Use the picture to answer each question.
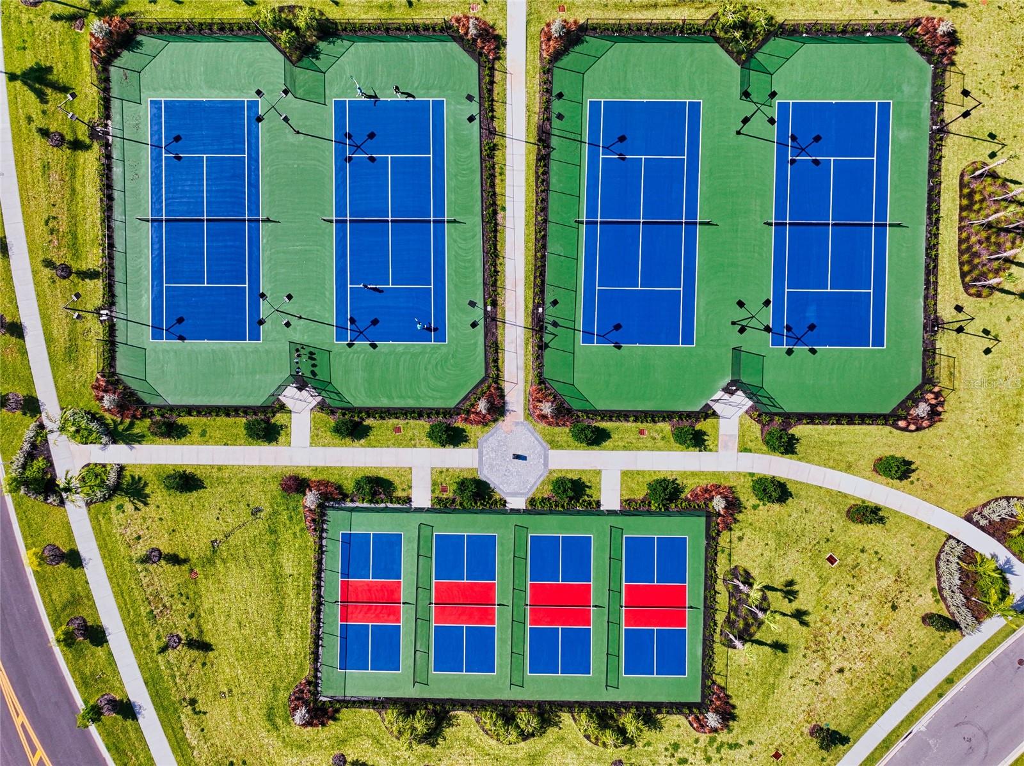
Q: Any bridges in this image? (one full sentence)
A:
No, no bridge can be seen from above.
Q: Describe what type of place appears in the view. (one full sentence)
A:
The picture captures a sports ground.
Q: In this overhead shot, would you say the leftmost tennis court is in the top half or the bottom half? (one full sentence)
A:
It is in the top half that the leftmost tennis court appears.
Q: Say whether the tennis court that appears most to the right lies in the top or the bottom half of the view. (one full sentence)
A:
It is in the top half that the tennis court that appears most to the right appears.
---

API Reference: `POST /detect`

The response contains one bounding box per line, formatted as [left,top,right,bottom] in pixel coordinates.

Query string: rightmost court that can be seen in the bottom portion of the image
[605,509,705,702]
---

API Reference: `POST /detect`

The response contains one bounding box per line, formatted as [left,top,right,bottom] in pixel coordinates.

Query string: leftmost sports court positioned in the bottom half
[320,506,421,698]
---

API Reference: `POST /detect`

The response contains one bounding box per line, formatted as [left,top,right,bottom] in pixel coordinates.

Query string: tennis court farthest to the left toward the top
[111,34,300,406]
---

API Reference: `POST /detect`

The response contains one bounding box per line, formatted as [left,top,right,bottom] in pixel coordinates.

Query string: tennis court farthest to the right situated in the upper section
[732,35,931,413]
